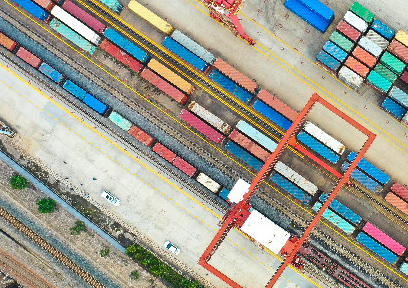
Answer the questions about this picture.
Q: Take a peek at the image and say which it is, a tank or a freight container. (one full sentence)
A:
Visible in the photo is a freight container.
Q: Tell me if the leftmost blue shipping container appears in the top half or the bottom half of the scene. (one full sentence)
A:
You can find the leftmost blue shipping container in the top half.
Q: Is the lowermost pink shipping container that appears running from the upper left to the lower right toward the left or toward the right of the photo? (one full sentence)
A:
The lowermost pink shipping container that appears running from the upper left to the lower right appears in the right half of the scene.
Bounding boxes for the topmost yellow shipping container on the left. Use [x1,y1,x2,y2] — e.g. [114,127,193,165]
[129,0,175,37]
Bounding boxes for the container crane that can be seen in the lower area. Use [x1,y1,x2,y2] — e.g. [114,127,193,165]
[201,95,375,288]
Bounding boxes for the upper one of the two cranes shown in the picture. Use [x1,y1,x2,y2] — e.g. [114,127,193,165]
[204,0,257,48]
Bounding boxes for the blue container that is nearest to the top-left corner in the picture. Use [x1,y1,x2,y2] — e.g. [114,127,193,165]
[11,0,53,26]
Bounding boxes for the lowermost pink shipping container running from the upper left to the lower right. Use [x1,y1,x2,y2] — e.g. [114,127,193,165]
[363,222,406,256]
